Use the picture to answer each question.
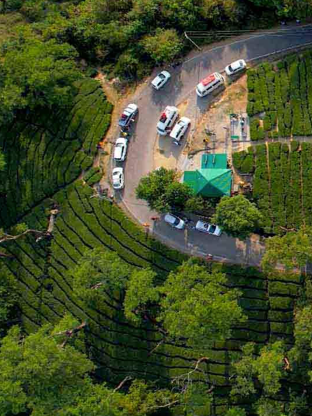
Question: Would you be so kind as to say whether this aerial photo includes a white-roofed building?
No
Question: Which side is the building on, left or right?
right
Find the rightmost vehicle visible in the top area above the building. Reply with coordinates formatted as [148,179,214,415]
[224,59,247,77]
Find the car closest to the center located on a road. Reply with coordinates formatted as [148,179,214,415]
[162,213,187,231]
